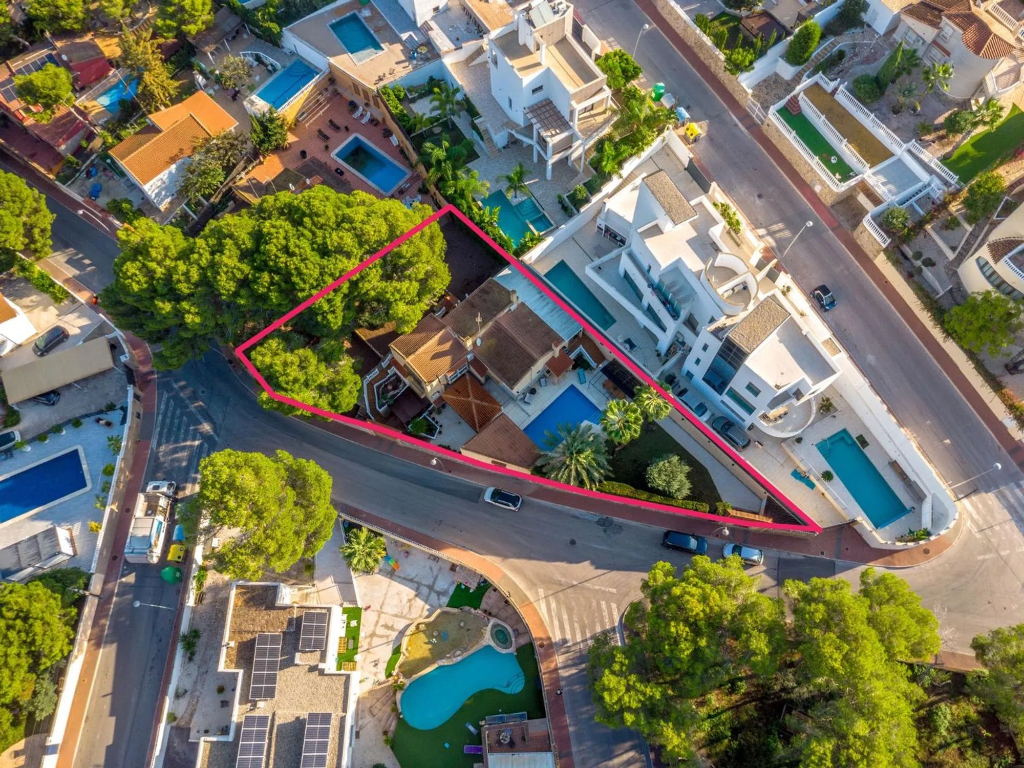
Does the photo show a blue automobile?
Yes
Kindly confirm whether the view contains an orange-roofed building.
Yes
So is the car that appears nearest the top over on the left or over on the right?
right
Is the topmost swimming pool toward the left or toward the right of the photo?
left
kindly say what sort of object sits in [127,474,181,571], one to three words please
truck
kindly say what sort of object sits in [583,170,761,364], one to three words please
house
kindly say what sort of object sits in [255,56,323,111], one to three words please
swimming pool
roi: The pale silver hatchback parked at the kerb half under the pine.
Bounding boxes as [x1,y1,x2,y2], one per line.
[720,541,766,567]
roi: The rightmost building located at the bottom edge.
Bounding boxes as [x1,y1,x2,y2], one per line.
[483,715,555,768]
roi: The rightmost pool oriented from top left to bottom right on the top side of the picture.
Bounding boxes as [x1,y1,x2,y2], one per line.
[547,258,617,332]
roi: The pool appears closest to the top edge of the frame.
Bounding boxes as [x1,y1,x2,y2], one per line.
[325,10,389,67]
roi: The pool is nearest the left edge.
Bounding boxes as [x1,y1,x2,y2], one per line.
[0,442,92,526]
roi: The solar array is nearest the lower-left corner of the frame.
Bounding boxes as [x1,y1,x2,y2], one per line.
[235,714,270,768]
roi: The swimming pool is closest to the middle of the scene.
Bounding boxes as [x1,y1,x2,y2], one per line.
[520,382,608,453]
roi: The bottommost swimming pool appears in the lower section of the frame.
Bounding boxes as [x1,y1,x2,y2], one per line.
[399,645,526,731]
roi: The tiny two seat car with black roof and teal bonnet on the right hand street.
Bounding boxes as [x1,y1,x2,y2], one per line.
[810,284,836,312]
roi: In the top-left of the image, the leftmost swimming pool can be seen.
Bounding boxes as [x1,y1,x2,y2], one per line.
[94,70,144,117]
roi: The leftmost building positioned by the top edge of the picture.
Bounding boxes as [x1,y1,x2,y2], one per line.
[0,38,120,192]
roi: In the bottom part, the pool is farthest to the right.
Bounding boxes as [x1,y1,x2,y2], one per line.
[815,427,911,530]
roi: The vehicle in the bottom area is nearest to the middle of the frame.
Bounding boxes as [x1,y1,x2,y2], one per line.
[481,485,526,513]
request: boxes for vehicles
[707,413,755,453]
[659,528,710,556]
[720,541,766,567]
[810,284,836,312]
[672,384,712,424]
[36,326,70,358]
[0,428,28,451]
[127,474,181,571]
[481,485,526,513]
[29,388,65,407]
